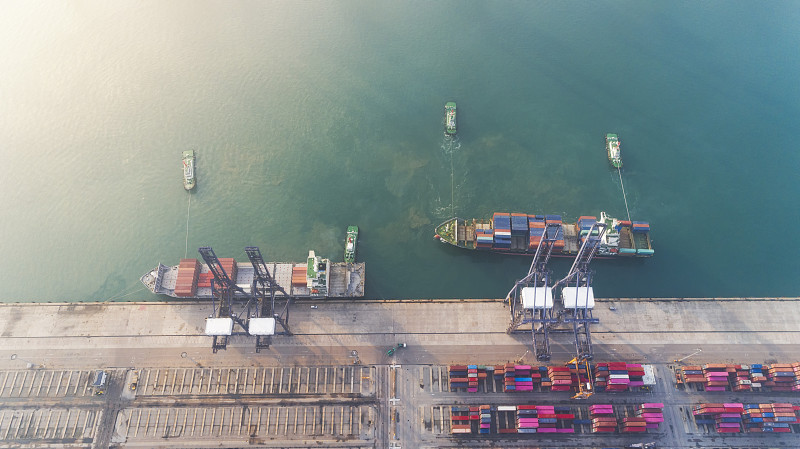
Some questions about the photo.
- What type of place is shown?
port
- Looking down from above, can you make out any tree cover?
No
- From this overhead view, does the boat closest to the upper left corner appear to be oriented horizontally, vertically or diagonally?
vertically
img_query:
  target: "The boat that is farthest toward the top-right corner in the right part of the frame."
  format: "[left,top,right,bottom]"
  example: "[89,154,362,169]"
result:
[603,135,623,170]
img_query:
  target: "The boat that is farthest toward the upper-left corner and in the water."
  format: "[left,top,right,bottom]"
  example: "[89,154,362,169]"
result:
[179,151,199,191]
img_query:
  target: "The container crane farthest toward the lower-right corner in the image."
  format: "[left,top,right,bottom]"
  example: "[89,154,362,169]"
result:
[565,355,595,401]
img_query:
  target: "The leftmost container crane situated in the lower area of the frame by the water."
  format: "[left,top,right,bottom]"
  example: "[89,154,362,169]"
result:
[195,251,254,354]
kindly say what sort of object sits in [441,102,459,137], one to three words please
boat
